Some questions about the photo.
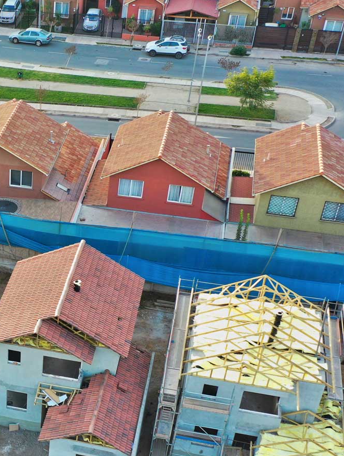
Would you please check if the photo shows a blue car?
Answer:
Yes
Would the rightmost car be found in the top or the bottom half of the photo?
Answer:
top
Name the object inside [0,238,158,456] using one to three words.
house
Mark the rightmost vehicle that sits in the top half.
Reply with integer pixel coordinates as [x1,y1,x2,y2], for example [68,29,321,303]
[144,34,191,58]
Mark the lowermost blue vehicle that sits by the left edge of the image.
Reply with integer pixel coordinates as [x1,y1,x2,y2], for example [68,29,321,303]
[6,25,51,45]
